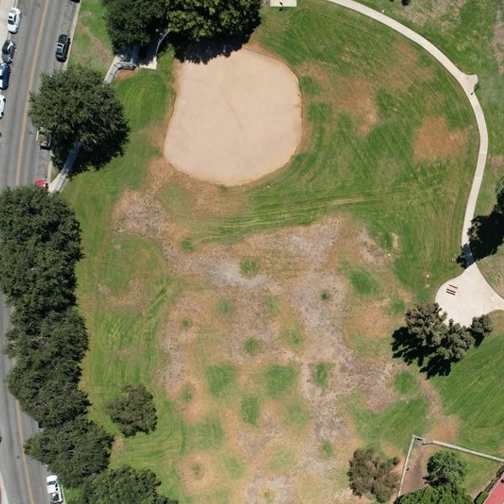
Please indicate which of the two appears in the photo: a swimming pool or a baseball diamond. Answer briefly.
baseball diamond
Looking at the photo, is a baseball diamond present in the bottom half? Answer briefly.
No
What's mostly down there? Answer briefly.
grass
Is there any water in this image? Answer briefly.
No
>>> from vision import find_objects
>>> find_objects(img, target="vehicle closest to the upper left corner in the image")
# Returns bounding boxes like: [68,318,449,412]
[7,7,23,34]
